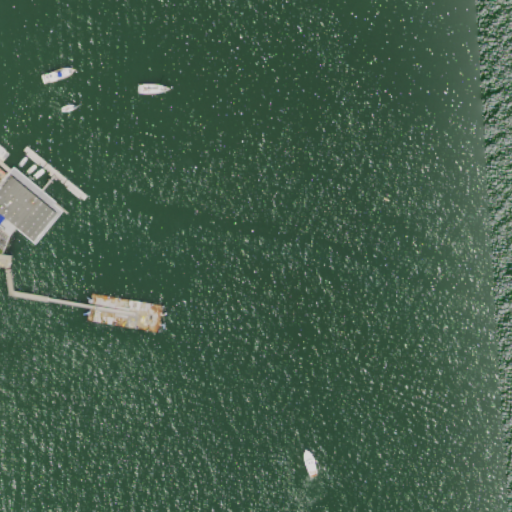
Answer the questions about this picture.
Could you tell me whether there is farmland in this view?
No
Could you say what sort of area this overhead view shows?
port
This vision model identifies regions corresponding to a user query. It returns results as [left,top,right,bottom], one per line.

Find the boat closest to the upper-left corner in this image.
[40,68,78,84]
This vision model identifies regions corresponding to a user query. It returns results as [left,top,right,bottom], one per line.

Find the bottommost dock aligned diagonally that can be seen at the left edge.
[0,254,49,302]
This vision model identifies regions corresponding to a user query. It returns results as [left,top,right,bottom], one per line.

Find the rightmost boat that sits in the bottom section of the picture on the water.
[304,450,318,479]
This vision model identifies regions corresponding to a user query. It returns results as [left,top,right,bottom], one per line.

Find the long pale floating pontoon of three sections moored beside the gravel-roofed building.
[24,147,87,200]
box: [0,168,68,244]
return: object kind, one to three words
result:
building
